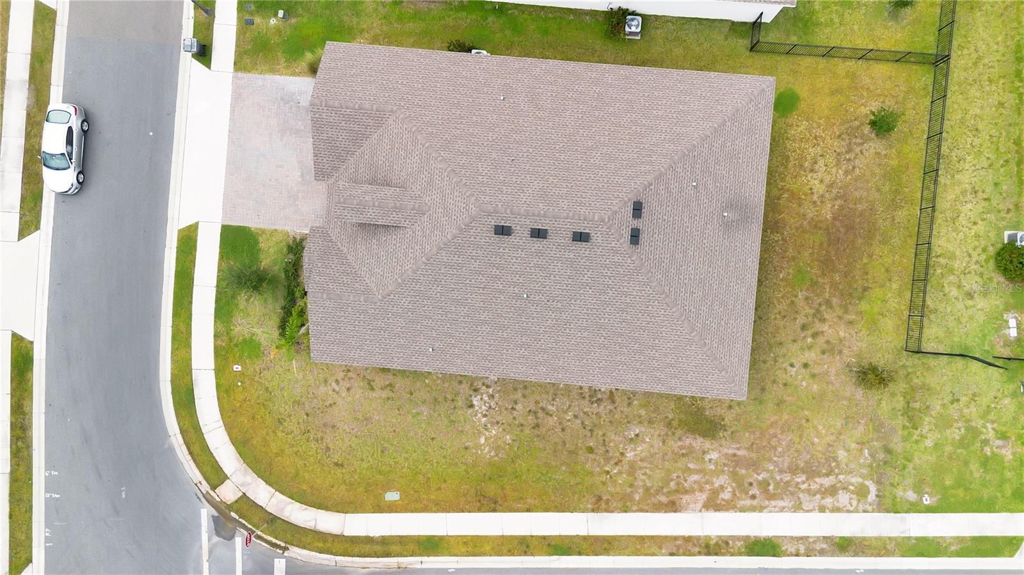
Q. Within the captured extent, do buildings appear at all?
Yes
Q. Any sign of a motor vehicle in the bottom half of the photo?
No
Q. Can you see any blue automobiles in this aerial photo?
No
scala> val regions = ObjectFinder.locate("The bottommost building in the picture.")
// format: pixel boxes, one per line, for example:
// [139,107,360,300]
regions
[302,40,776,402]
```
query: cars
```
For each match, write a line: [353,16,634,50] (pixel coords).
[33,103,88,193]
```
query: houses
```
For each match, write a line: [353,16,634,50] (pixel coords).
[503,0,798,22]
[302,40,776,402]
